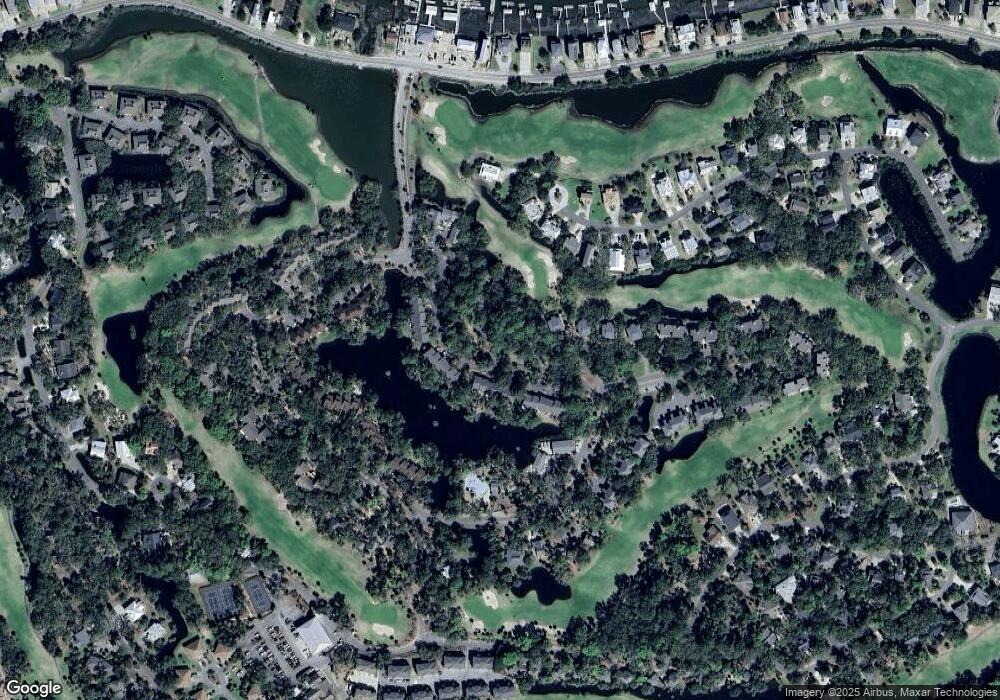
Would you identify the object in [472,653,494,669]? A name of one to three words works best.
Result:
house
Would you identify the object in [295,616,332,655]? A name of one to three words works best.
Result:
building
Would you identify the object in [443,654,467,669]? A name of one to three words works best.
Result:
house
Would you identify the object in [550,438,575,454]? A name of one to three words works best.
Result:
building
